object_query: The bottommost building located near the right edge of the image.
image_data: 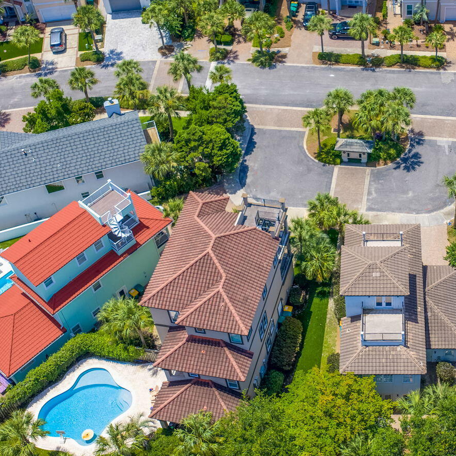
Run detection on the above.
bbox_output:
[338,222,456,399]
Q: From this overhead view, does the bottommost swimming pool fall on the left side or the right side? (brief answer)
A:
left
